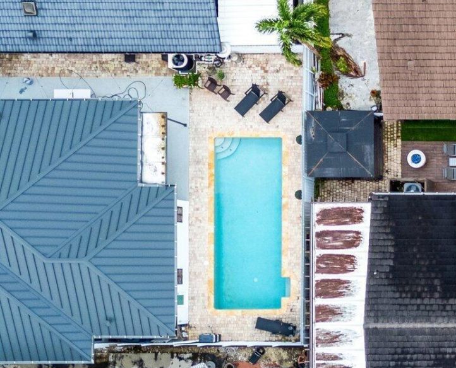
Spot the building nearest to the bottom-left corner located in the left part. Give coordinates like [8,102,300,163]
[0,97,188,364]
